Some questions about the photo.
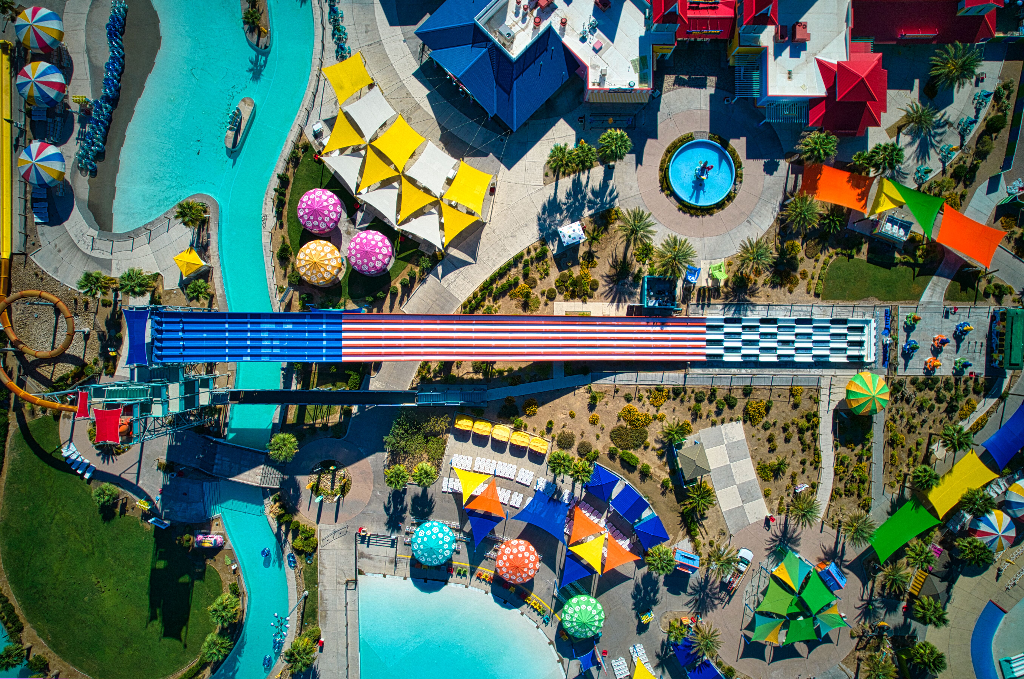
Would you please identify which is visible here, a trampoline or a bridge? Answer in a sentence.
Looking from above, you can make out a bridge.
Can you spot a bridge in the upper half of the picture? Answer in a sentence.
No, I can find no bridge in the upper half of the picture.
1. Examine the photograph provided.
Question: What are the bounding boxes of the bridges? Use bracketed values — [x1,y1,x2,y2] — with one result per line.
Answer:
[168,431,283,491]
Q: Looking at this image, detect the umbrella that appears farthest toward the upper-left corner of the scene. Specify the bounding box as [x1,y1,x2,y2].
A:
[15,5,66,55]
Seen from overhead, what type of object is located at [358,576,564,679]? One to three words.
swimming pool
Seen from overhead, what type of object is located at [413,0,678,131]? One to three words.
building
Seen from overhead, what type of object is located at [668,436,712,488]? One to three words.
building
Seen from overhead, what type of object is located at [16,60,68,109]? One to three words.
umbrella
